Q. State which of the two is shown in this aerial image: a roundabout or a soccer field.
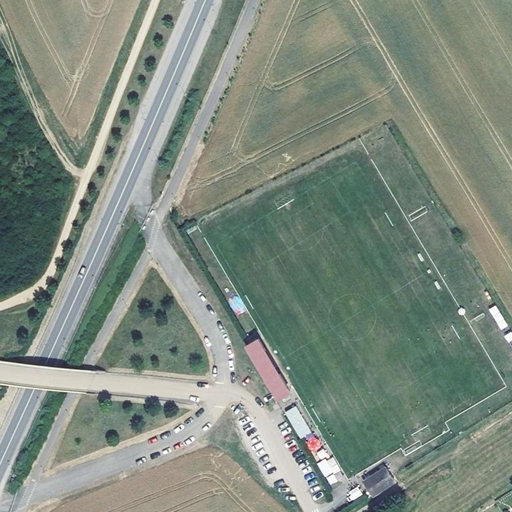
soccer field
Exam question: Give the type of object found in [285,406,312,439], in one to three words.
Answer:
shed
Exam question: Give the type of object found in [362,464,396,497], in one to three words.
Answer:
building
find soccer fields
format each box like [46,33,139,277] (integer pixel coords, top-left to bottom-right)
[212,154,502,474]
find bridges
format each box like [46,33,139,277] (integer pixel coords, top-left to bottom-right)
[0,360,116,394]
